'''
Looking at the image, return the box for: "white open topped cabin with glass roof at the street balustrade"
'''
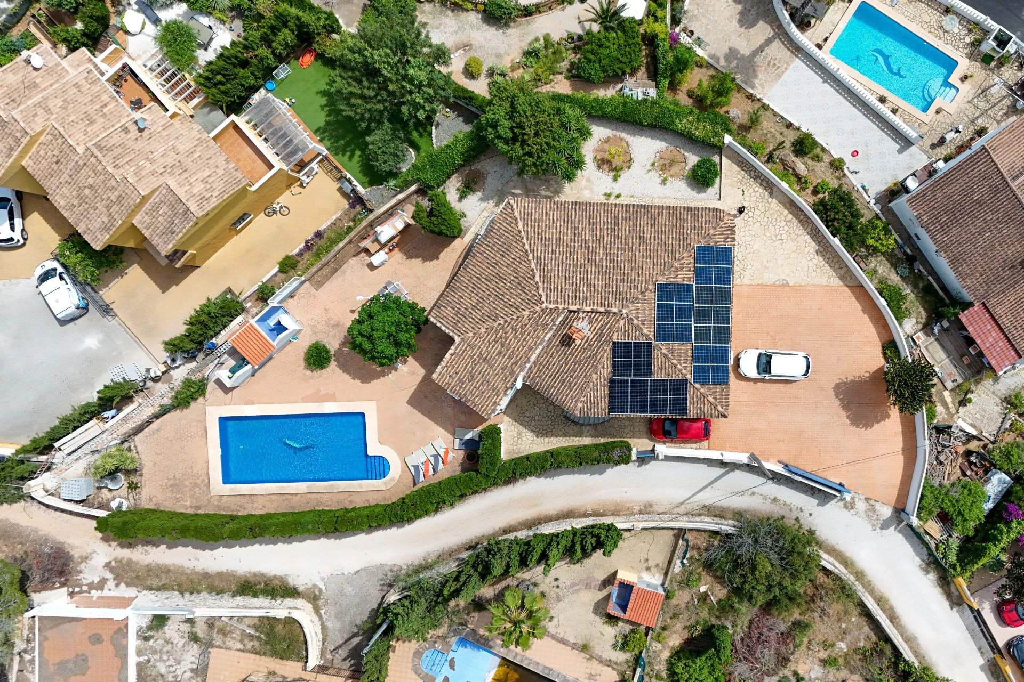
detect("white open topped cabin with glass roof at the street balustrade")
[964,27,1016,69]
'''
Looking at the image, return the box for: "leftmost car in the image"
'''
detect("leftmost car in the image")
[0,185,31,253]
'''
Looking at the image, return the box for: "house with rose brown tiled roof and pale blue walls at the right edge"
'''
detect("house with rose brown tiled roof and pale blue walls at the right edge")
[877,112,1024,375]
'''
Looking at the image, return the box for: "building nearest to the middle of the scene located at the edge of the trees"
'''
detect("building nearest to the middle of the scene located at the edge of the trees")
[427,195,736,423]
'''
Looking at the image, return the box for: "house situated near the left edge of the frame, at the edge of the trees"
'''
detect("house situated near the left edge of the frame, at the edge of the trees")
[0,43,294,272]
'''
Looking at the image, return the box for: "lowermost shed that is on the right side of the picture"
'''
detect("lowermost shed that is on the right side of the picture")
[602,561,665,629]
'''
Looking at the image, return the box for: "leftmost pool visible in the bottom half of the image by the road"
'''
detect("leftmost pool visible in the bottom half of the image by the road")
[207,401,401,496]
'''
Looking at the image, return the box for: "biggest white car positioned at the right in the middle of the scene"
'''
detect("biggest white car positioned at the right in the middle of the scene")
[735,347,809,382]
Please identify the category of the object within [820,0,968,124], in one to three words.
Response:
swimming pool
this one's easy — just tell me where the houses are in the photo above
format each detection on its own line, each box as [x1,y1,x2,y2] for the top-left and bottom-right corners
[877,112,1024,375]
[0,43,294,272]
[427,195,736,423]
